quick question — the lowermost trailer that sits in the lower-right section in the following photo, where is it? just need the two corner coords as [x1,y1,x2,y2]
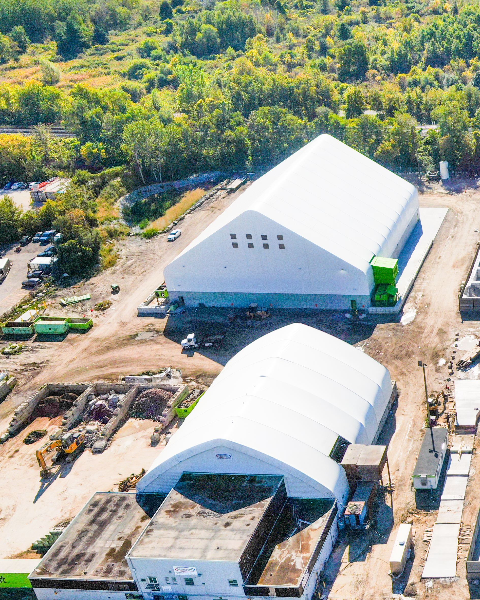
[390,524,413,585]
